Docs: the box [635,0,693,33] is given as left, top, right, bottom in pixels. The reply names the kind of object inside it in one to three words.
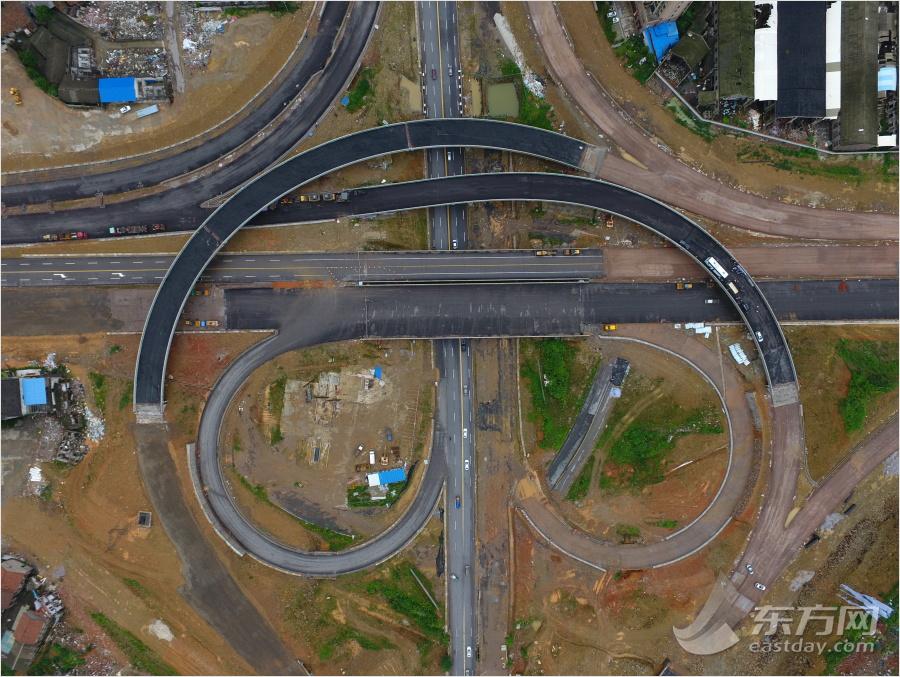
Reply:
house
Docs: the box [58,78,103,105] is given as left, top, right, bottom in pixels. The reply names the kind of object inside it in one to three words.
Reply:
house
